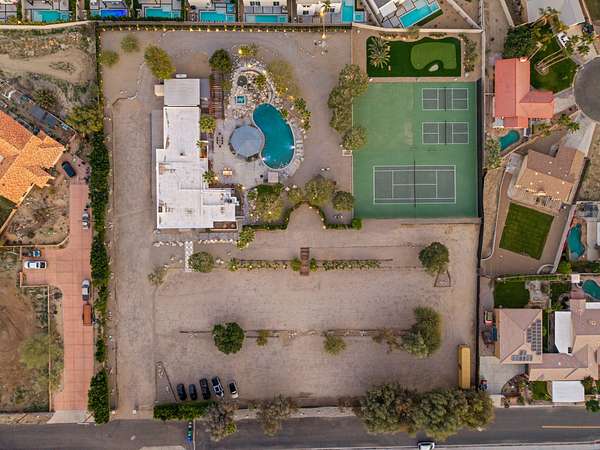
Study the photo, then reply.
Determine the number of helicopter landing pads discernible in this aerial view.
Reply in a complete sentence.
Not a single helicopter landing pad can be seen.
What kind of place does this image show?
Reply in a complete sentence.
This image shows a residential area.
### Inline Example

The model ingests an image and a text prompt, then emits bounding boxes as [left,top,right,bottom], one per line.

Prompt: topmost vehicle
[63,161,76,178]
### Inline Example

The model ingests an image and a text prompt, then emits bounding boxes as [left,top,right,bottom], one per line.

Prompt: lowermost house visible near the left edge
[0,111,70,207]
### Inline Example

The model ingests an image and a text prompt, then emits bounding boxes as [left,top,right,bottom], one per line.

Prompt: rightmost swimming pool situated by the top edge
[399,2,439,28]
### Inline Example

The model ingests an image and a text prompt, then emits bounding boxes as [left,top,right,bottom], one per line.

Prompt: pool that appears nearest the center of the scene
[252,103,296,169]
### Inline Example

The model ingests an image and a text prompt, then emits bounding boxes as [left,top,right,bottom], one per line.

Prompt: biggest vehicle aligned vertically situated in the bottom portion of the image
[457,344,471,388]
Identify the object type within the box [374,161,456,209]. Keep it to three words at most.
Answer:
tennis court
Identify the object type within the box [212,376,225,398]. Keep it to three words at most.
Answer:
vehicle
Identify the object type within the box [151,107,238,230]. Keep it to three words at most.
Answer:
house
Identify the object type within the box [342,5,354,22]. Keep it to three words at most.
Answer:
swimming pool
